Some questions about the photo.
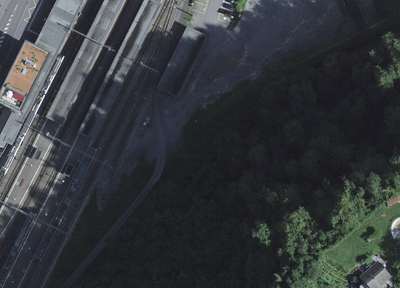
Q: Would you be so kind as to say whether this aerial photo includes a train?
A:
Yes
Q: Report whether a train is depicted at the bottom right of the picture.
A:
No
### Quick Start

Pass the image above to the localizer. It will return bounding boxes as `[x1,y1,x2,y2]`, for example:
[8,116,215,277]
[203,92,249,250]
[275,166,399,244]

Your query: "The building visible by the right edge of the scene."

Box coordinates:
[358,262,392,288]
